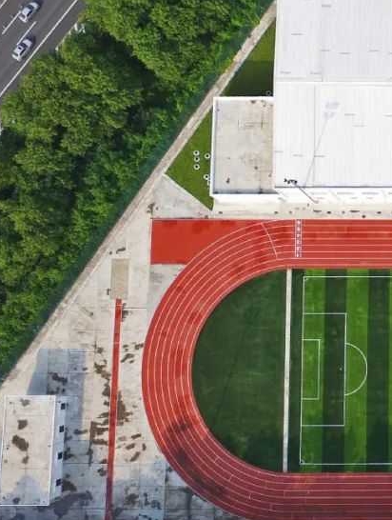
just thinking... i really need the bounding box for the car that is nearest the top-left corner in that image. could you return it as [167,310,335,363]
[16,0,39,23]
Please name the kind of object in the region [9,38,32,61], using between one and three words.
car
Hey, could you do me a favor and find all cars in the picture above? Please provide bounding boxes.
[16,0,39,23]
[9,38,32,61]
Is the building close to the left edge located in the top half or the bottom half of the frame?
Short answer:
bottom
